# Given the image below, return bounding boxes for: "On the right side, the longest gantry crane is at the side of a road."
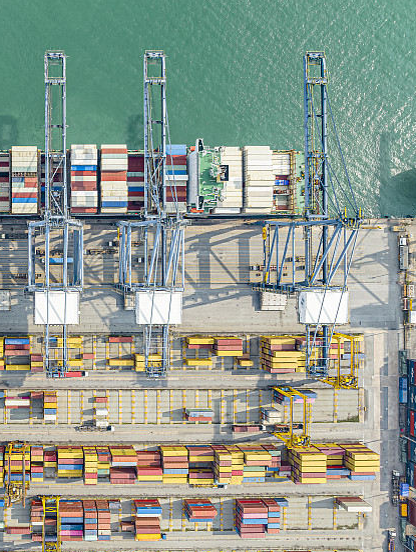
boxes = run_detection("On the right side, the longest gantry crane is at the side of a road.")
[239,46,370,381]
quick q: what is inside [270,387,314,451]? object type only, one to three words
container crane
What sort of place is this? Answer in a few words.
port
